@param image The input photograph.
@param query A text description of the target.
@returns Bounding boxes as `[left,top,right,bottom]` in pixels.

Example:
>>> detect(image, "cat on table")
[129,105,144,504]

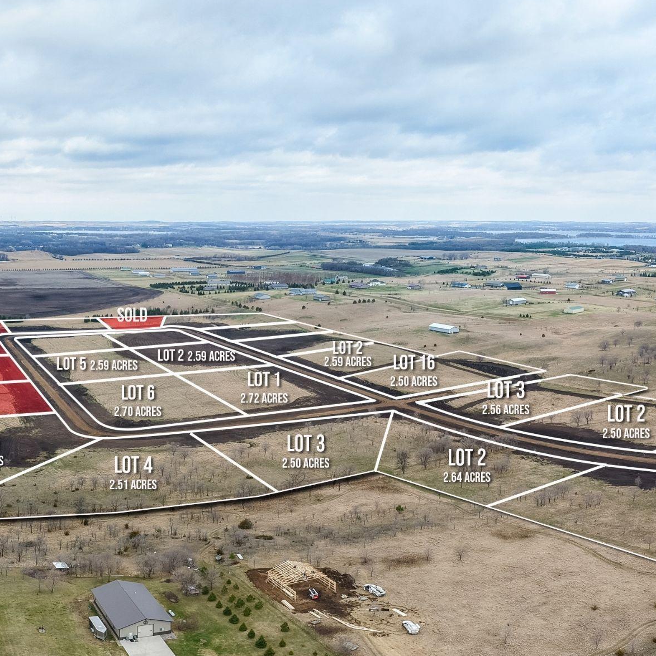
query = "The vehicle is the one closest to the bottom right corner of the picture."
[405,621,422,634]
